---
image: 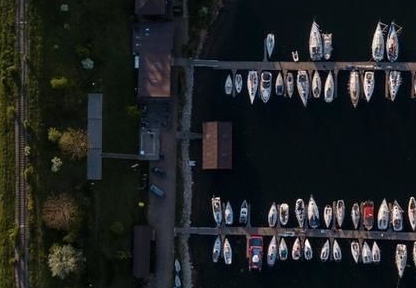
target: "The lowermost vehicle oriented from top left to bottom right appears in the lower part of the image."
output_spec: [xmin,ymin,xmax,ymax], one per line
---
[149,182,166,197]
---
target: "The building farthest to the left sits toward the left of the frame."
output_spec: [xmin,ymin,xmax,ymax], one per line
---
[88,95,105,180]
